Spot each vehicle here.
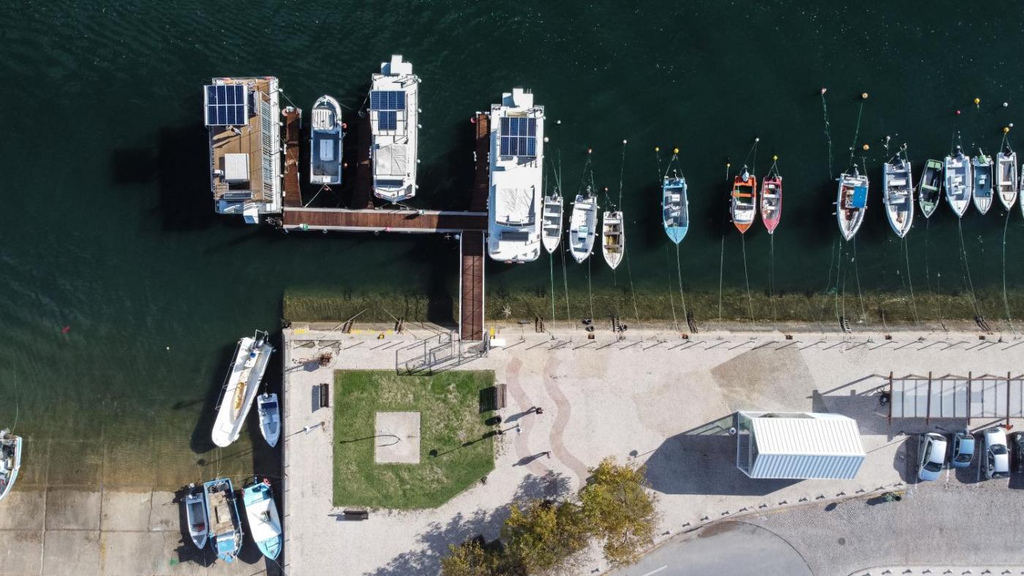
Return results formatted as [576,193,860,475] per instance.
[1010,431,1024,484]
[914,431,946,480]
[978,426,1008,478]
[949,432,976,468]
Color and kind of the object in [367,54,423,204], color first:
white boat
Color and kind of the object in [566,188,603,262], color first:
white boat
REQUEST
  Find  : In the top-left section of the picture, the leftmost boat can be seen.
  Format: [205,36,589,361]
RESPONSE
[205,77,285,223]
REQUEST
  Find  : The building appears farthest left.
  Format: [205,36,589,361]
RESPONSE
[737,412,868,481]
